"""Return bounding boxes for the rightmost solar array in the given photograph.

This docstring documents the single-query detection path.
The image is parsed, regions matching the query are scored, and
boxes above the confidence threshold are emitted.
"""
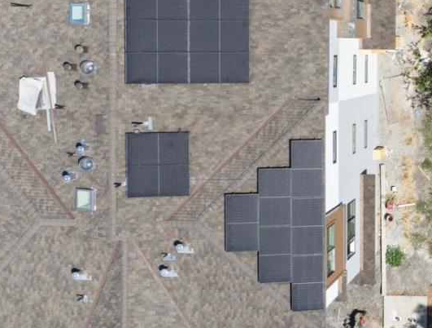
[225,138,325,310]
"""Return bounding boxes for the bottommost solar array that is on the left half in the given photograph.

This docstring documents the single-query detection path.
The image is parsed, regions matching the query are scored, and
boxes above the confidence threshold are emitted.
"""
[126,132,191,197]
